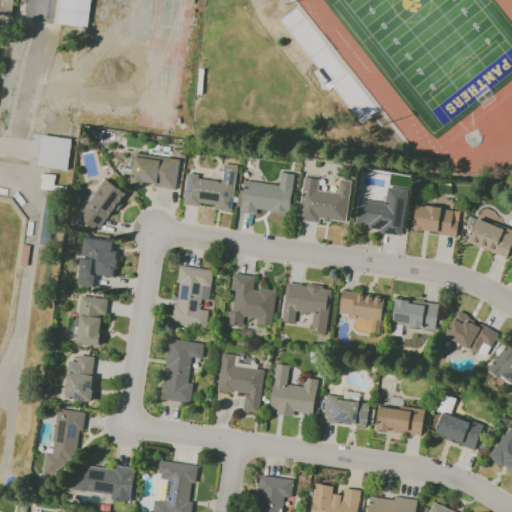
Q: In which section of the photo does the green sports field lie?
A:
top right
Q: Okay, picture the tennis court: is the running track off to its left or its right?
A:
right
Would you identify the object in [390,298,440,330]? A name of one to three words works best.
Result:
house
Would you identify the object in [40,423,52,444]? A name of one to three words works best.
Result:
swimming pool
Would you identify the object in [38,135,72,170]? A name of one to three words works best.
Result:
building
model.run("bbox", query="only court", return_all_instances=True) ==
[138,0,188,127]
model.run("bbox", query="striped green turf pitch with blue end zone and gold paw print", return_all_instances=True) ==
[325,0,512,140]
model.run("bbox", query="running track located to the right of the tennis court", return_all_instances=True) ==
[298,0,512,174]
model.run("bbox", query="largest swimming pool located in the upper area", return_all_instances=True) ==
[82,152,99,178]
